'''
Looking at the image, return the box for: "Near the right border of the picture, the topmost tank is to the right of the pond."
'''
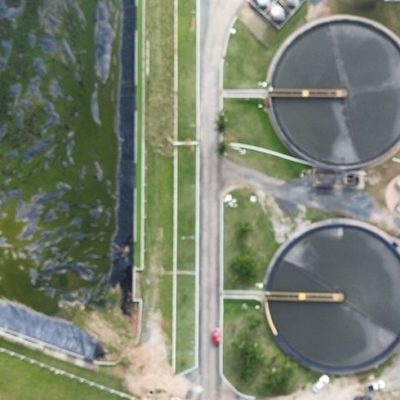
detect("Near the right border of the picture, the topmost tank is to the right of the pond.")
[263,12,400,169]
